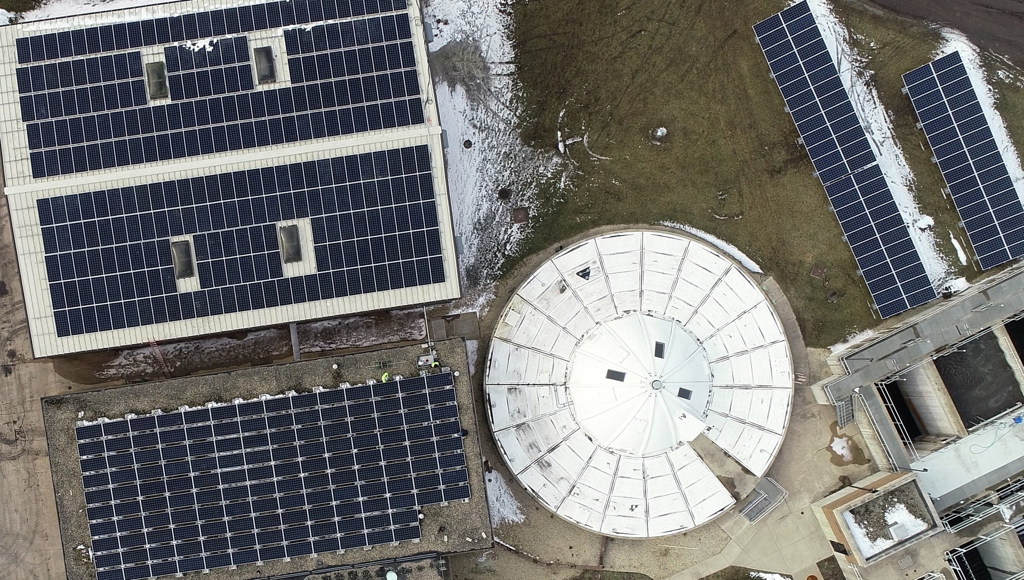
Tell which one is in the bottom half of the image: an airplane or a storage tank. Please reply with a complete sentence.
It is a storage tank that can be seen in the bottom half of the image.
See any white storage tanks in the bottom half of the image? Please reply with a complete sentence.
Yes, I can see a white storage tank in the bottom half of the image.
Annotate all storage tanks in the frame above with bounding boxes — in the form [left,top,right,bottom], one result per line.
[483,229,793,539]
